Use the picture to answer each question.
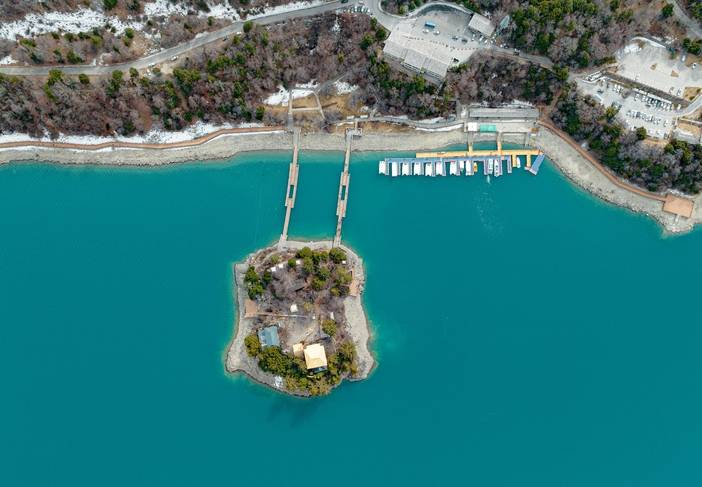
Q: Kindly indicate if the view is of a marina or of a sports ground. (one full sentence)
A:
The picture captures a marina.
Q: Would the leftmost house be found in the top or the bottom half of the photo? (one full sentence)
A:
It is in the bottom half that the leftmost house appears.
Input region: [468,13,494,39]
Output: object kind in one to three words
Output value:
building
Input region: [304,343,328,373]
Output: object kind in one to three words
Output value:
building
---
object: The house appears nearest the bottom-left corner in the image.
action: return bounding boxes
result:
[258,325,281,353]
